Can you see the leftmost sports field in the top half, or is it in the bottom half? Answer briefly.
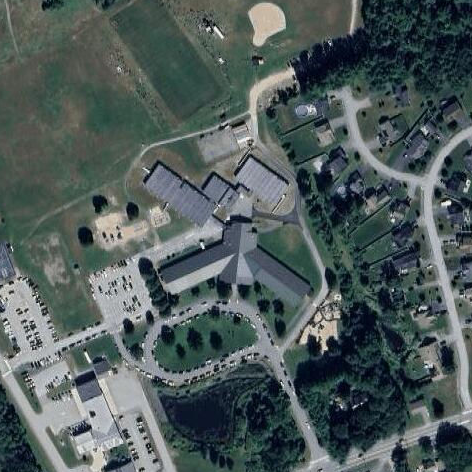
top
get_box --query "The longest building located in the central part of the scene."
[158,222,312,309]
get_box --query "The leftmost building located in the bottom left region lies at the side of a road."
[72,362,122,458]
